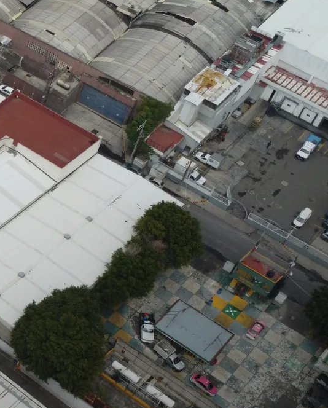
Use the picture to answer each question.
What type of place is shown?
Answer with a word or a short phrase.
industrial area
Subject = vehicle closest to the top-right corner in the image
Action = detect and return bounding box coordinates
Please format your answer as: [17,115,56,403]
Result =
[295,135,325,159]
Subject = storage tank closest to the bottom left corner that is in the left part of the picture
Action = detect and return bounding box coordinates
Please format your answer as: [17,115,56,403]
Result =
[105,362,138,392]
